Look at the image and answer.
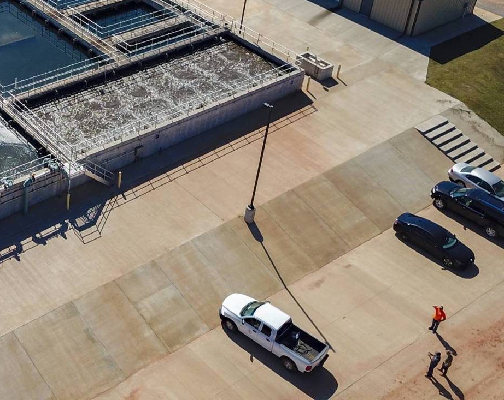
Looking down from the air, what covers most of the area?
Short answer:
paved ground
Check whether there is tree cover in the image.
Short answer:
No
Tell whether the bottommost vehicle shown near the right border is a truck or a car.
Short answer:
car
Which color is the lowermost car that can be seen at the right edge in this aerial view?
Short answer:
black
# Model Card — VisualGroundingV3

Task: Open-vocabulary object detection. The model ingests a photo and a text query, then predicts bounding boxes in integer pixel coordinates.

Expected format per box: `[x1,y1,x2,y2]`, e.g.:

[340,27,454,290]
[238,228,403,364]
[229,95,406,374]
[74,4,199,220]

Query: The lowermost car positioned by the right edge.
[392,211,480,270]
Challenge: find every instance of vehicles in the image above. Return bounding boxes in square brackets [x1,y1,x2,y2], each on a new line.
[392,211,480,270]
[214,291,332,382]
[430,181,504,237]
[449,160,504,202]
